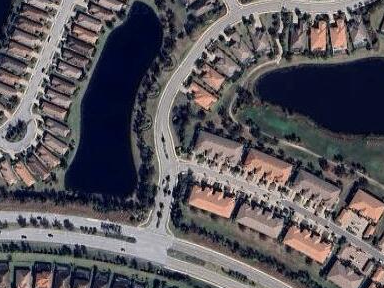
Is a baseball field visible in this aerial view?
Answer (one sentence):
No, I can see no baseball field in this picture.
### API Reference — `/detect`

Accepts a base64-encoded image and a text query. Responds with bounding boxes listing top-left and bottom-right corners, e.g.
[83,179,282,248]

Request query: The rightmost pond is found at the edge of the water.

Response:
[64,1,163,197]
